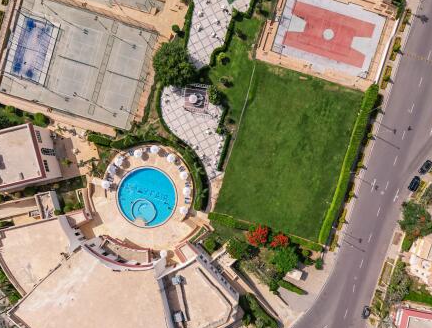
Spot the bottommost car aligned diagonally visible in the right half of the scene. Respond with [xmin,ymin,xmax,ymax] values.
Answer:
[408,176,420,192]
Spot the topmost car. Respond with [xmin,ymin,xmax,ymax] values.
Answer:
[418,159,432,175]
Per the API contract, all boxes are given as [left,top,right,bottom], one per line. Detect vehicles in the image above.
[418,159,432,175]
[362,306,370,319]
[408,176,420,192]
